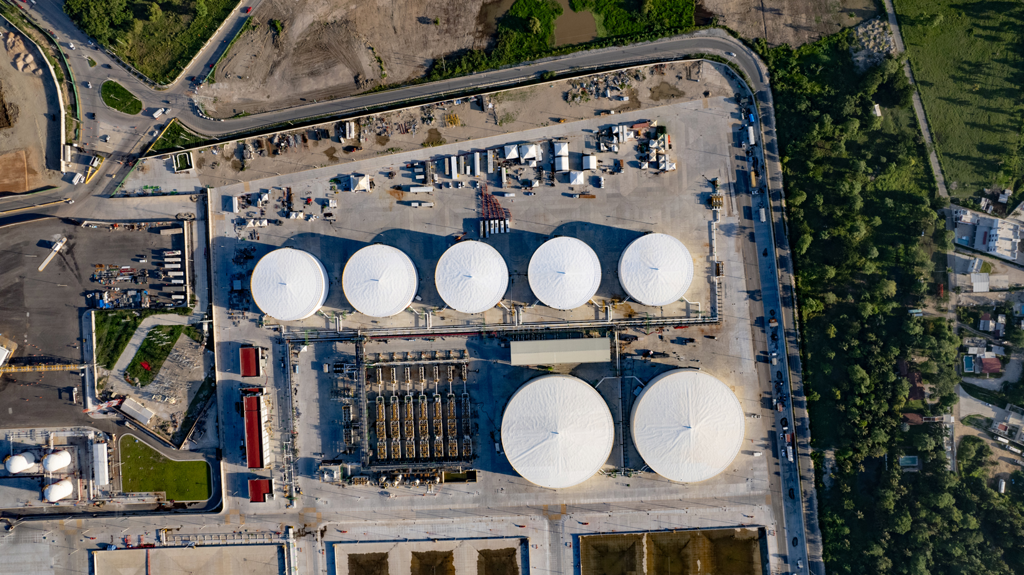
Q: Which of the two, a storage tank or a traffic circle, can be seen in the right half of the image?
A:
storage tank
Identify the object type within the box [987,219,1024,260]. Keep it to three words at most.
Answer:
building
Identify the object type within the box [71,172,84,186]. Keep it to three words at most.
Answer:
vehicle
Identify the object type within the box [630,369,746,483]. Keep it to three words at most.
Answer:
storage tank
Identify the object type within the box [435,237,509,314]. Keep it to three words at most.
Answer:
storage tank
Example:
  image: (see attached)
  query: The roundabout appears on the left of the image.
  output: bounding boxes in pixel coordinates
[98,77,145,116]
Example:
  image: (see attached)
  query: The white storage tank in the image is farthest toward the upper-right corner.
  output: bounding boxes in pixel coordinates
[618,230,694,306]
